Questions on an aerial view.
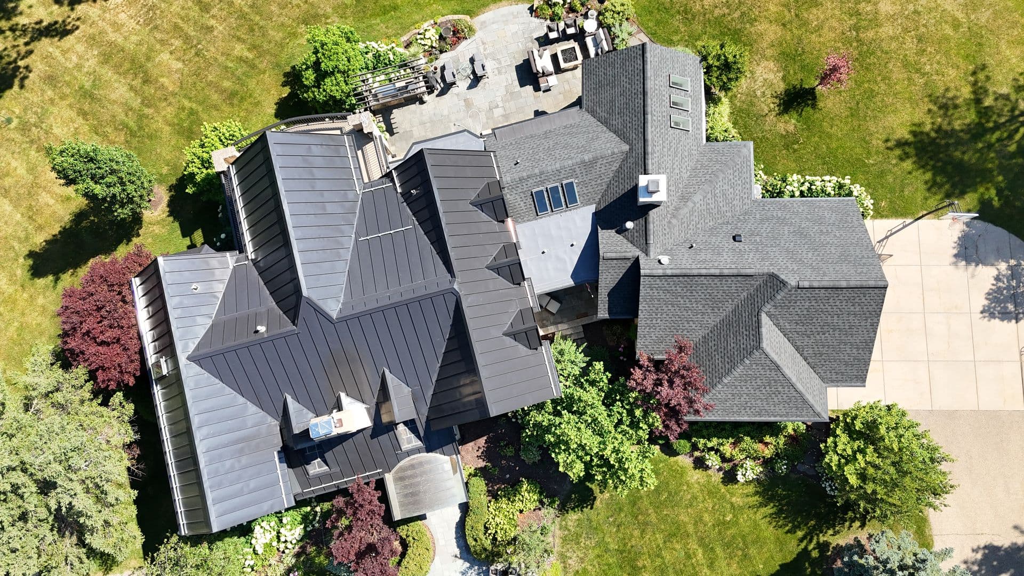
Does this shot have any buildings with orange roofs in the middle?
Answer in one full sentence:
No, the scene shows no building with an orange roof in the middle.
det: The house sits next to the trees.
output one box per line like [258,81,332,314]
[127,43,888,536]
